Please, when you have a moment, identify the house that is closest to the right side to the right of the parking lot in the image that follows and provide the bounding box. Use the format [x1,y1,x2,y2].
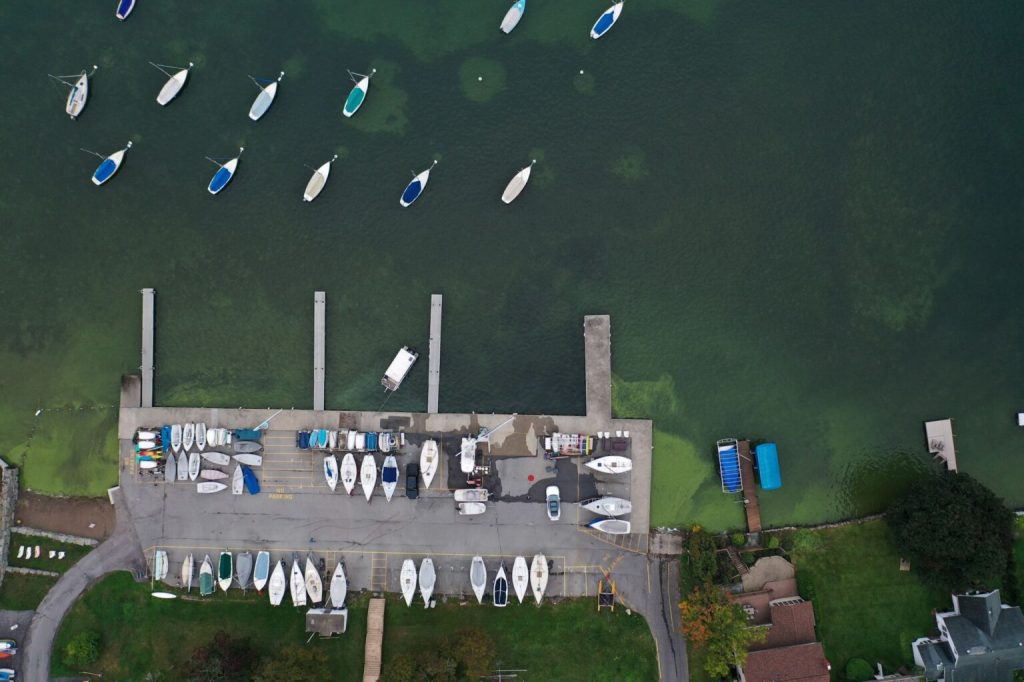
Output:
[913,588,1024,682]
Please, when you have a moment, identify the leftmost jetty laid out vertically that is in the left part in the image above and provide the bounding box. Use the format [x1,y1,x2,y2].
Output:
[140,288,158,407]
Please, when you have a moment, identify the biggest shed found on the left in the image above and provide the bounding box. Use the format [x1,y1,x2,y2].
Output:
[306,607,349,633]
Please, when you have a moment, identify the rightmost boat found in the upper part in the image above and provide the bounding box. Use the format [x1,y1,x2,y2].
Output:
[589,0,623,41]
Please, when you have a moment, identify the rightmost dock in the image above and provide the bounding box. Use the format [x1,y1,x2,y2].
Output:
[926,418,959,475]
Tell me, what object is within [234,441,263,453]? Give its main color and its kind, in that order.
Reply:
gray boat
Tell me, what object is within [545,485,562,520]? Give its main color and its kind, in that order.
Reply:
white car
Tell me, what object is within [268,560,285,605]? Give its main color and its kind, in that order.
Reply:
white boat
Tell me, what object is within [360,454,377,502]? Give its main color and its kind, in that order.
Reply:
white boat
